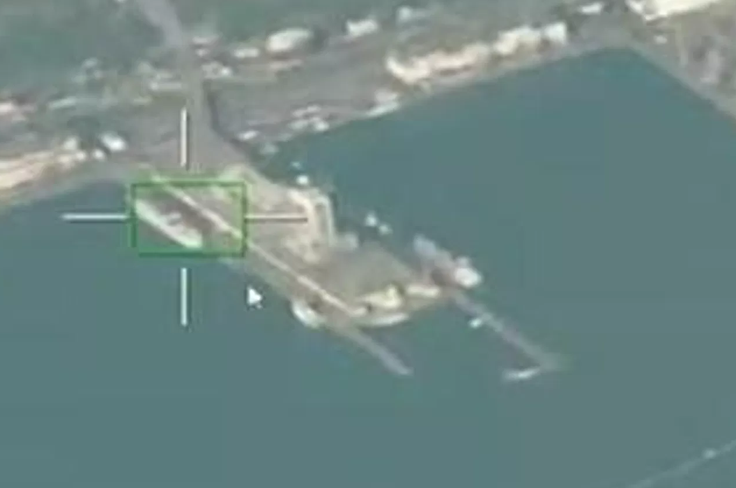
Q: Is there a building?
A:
Yes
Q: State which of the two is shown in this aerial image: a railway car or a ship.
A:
ship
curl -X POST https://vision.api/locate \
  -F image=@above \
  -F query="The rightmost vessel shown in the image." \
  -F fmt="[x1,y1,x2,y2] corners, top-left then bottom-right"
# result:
[506,367,541,379]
